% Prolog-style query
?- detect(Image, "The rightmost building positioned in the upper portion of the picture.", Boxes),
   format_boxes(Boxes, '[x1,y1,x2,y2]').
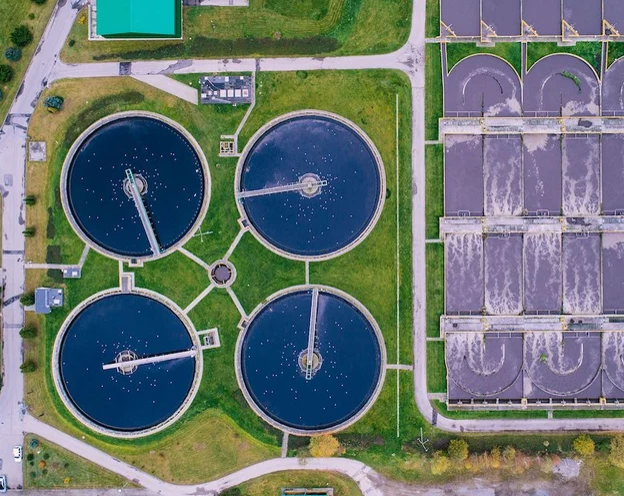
[200,77,251,104]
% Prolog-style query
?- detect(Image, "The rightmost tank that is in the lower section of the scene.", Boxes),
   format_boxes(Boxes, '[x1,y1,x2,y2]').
[235,284,386,435]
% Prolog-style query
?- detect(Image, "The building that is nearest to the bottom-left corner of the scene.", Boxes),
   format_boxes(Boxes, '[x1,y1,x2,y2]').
[35,288,65,313]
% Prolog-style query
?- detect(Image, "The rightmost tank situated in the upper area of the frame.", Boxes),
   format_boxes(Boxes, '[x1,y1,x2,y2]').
[235,110,386,261]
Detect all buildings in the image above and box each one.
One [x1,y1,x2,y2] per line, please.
[200,77,251,104]
[280,490,328,496]
[63,268,82,277]
[35,288,65,313]
[96,0,180,38]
